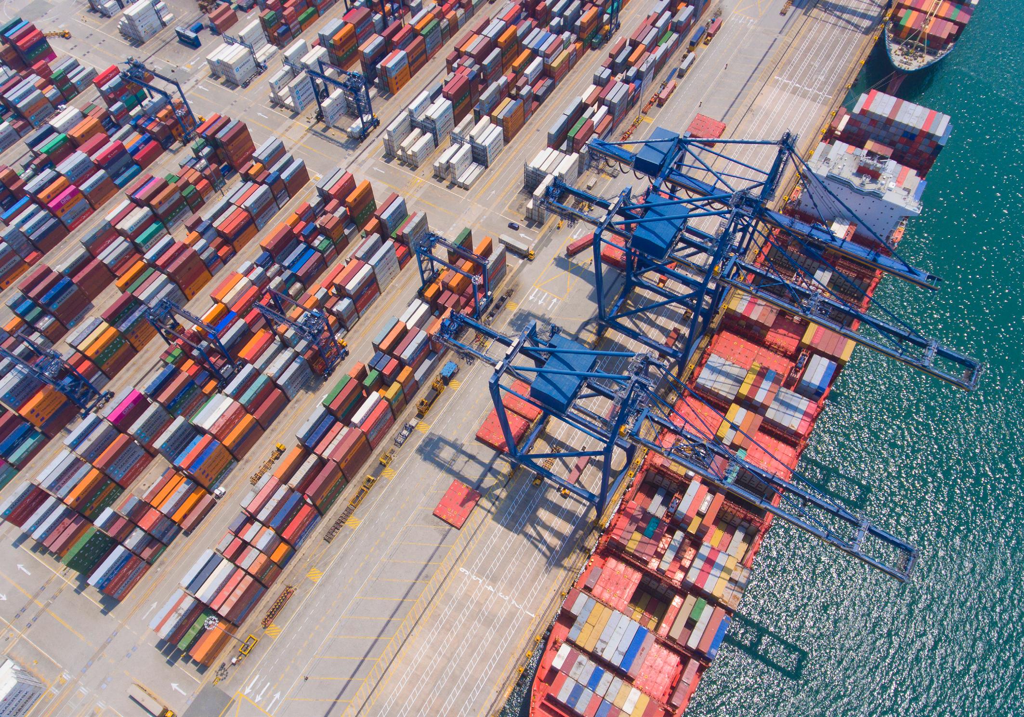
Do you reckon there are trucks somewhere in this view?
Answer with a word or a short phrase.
Yes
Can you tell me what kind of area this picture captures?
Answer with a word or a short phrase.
port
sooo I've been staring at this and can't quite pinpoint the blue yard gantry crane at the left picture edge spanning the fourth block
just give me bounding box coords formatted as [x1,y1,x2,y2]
[0,326,111,420]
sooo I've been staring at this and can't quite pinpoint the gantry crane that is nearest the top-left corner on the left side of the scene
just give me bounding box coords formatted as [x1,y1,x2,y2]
[121,61,205,141]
